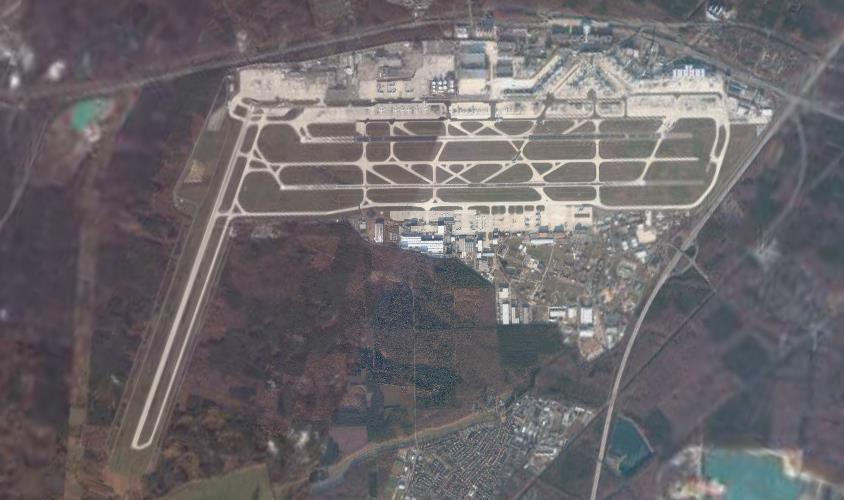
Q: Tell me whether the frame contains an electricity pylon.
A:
No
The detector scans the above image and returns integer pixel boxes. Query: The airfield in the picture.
[109,42,769,472]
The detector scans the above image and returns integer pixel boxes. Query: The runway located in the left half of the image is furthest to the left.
[132,110,253,447]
